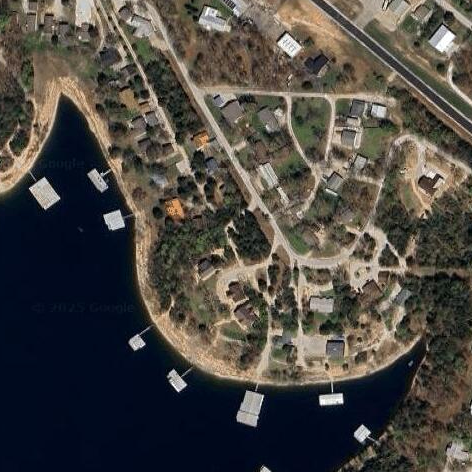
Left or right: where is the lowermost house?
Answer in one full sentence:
The lowermost house is on the right side of the image.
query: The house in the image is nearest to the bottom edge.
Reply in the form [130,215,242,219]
[447,441,470,460]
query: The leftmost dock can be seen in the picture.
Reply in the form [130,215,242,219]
[28,171,61,210]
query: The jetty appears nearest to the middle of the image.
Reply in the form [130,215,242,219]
[104,209,135,231]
